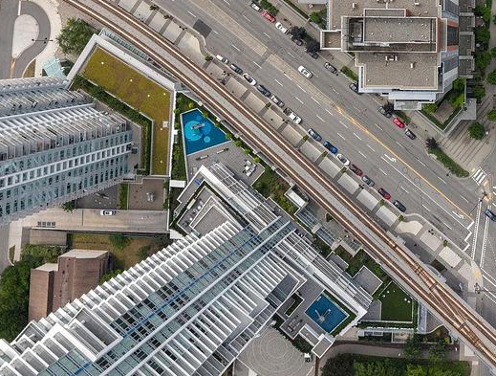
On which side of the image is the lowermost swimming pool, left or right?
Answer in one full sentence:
You can find the lowermost swimming pool on the right side of the picture.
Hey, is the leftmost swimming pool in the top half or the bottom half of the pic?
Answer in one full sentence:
You can find the leftmost swimming pool in the top half.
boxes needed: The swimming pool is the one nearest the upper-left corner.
[180,107,234,155]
